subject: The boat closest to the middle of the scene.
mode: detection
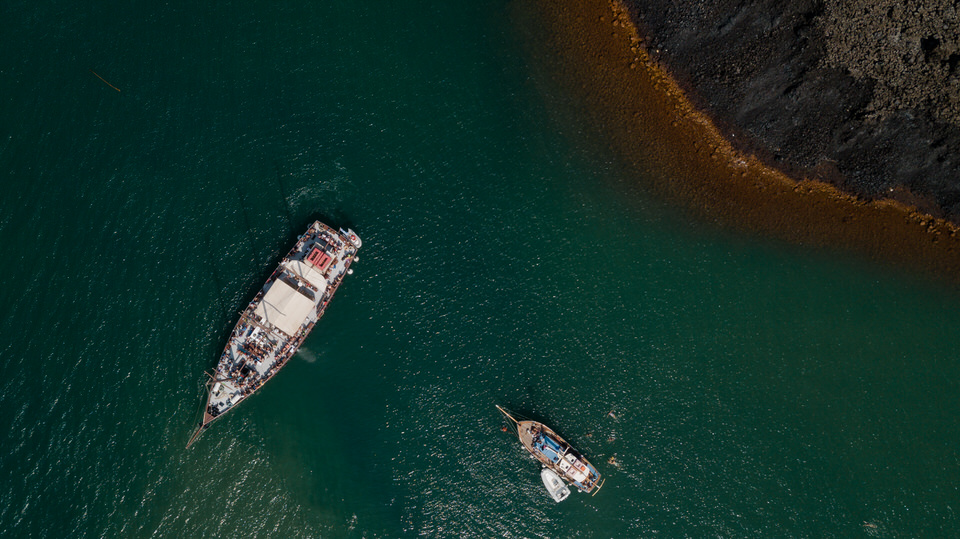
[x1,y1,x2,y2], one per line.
[343,229,363,247]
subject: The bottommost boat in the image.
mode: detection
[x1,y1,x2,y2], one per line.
[541,466,571,502]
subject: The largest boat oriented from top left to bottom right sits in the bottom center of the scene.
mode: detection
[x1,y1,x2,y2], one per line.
[495,405,606,496]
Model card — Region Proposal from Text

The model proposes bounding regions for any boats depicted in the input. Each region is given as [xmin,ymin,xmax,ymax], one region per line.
[541,466,571,502]
[495,405,606,496]
[343,229,363,247]
[183,220,358,449]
